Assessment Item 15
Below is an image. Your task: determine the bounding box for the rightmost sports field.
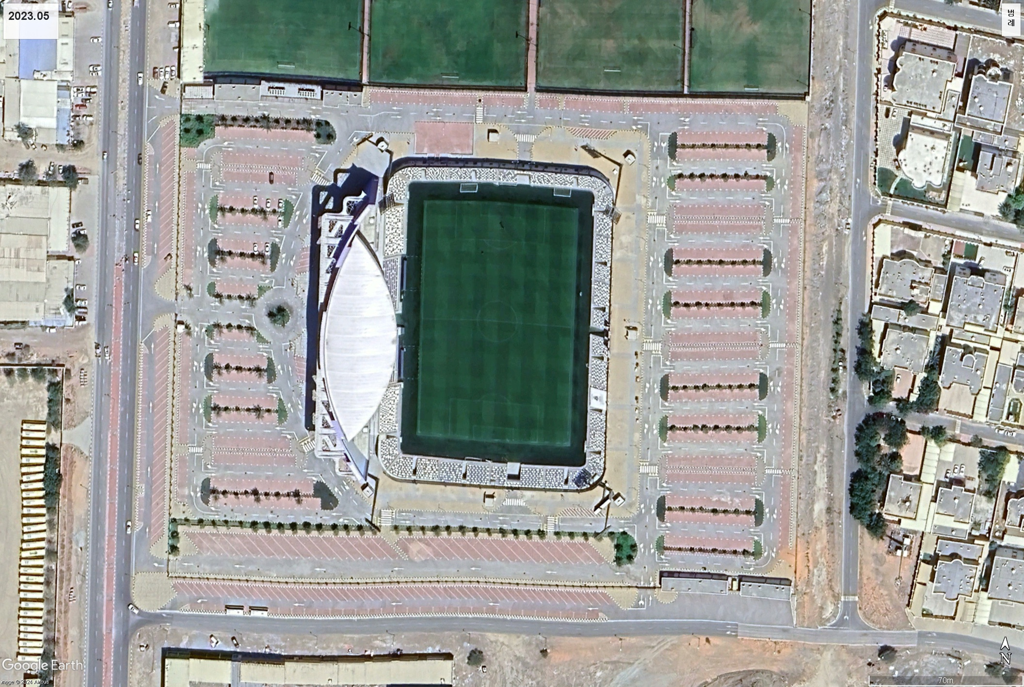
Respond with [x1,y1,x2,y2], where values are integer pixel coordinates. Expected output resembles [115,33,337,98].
[689,0,810,98]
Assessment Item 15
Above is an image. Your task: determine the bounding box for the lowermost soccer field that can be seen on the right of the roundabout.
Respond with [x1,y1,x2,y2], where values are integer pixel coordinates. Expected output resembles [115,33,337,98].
[405,184,591,467]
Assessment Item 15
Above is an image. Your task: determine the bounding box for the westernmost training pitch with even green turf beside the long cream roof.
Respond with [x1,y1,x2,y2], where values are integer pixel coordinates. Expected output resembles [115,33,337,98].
[204,0,364,86]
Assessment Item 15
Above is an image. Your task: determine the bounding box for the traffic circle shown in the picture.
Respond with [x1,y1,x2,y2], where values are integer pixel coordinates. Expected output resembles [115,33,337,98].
[257,292,303,336]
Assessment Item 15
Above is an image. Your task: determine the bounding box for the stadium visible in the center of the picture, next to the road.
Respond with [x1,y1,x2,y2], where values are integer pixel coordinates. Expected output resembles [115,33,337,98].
[311,158,615,491]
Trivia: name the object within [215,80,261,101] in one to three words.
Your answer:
building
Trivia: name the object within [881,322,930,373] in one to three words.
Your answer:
house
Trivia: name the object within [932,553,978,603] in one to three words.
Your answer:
house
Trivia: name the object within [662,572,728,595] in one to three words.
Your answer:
building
